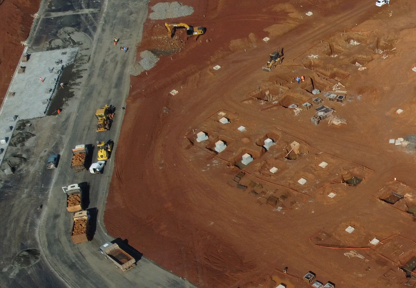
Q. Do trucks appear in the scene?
Yes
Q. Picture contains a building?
No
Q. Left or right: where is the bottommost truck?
left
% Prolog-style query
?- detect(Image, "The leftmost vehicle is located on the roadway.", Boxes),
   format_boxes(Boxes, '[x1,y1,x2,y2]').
[44,155,61,170]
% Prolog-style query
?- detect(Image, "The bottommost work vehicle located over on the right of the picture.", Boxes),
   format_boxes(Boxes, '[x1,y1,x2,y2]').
[264,49,285,73]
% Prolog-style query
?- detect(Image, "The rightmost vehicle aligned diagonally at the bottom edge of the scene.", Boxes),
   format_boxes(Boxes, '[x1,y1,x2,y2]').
[99,240,134,274]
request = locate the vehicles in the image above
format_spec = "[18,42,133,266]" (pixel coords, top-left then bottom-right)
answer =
[99,240,134,274]
[86,159,109,175]
[93,105,113,132]
[264,49,285,73]
[69,143,91,175]
[168,23,207,41]
[95,141,108,159]
[44,155,61,170]
[375,0,391,7]
[63,182,84,216]
[70,209,92,246]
